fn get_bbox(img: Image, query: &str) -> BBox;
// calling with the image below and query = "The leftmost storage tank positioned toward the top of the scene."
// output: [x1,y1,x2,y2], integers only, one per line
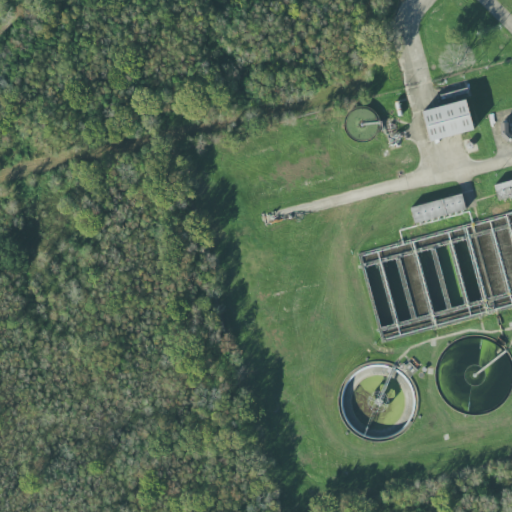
[346,107,383,141]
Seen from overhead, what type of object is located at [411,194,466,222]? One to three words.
building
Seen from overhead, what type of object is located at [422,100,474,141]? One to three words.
building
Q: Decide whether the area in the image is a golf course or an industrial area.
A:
industrial area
